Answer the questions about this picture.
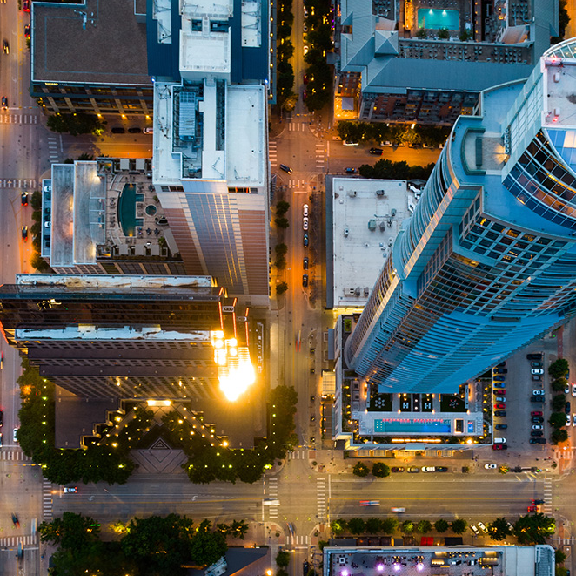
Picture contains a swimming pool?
Yes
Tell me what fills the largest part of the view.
buildings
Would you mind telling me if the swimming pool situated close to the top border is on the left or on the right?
right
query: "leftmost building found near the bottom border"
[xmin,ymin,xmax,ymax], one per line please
[189,548,269,576]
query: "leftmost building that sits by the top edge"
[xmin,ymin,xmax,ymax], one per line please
[30,0,152,119]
